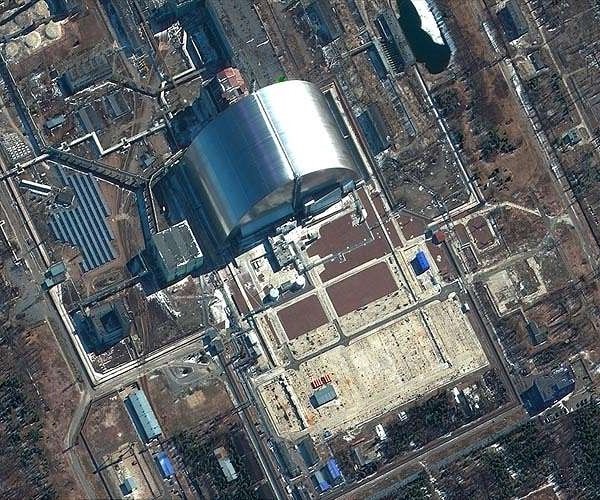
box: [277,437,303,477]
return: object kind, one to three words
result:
shed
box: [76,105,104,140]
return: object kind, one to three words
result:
building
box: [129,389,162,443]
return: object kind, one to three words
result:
building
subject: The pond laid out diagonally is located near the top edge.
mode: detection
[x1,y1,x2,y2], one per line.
[397,0,452,74]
